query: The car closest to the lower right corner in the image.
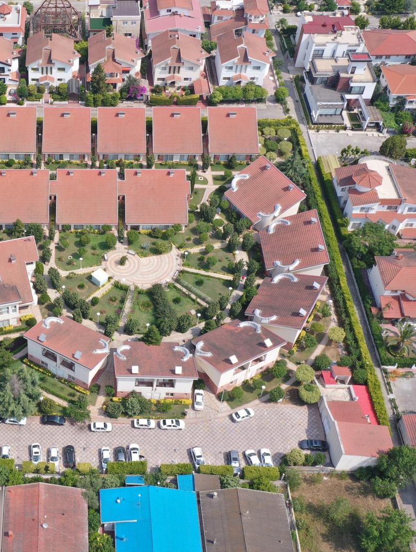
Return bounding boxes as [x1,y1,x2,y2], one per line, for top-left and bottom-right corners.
[299,438,328,452]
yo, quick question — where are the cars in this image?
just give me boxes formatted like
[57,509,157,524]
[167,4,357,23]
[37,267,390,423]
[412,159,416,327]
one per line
[299,438,328,452]
[128,440,141,461]
[29,441,42,466]
[89,421,114,433]
[3,413,28,428]
[258,446,275,465]
[230,407,256,424]
[159,417,185,430]
[64,445,76,470]
[227,449,242,474]
[114,442,126,461]
[132,417,158,430]
[48,445,60,470]
[193,388,205,412]
[242,446,261,465]
[190,446,206,472]
[295,10,309,17]
[41,413,66,427]
[99,446,112,471]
